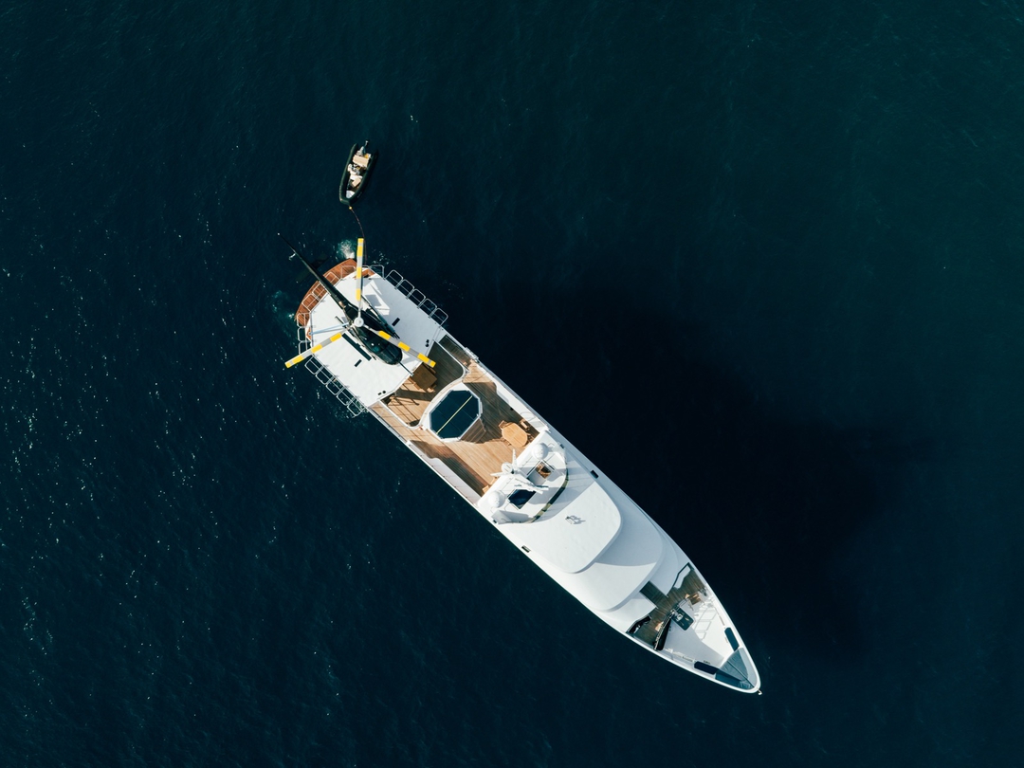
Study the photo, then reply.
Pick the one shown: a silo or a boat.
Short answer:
boat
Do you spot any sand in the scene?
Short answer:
No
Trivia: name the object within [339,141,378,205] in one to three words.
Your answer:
boat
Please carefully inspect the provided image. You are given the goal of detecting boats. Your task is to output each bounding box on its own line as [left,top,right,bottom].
[339,141,378,205]
[294,257,762,693]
